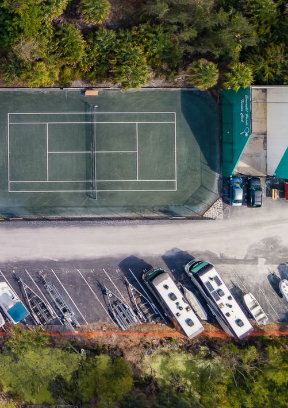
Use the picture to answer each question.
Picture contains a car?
Yes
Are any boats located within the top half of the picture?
No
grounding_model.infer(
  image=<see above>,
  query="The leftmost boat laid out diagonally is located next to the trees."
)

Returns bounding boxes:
[0,282,30,324]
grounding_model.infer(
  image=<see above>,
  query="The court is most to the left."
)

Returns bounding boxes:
[0,89,219,220]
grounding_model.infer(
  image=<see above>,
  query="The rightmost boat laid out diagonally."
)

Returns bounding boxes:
[246,293,268,323]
